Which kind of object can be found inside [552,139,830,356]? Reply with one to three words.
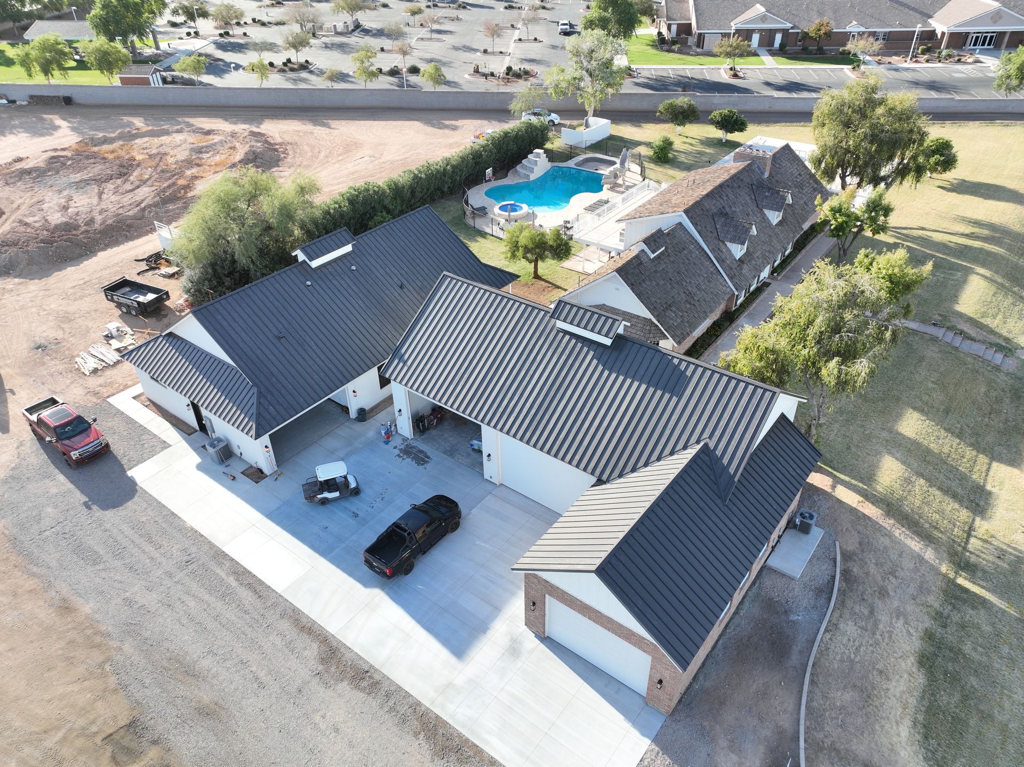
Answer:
house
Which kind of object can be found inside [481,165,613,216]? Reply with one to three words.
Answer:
swimming pool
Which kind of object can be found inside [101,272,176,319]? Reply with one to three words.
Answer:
trailer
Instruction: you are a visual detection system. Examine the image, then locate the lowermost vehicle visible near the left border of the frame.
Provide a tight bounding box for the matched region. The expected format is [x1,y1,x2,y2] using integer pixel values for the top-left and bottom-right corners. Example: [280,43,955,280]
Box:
[22,396,113,470]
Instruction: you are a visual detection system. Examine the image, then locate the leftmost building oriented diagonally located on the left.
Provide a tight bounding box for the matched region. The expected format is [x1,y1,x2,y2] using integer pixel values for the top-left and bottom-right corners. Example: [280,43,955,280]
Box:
[124,207,520,475]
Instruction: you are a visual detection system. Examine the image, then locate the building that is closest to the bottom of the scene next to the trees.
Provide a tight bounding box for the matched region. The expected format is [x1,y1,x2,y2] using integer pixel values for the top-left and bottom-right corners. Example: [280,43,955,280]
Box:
[511,413,824,714]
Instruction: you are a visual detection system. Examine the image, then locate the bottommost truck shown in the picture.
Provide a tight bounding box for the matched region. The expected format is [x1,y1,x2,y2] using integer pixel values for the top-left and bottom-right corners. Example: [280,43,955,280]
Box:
[362,488,470,582]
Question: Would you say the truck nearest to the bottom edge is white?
No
